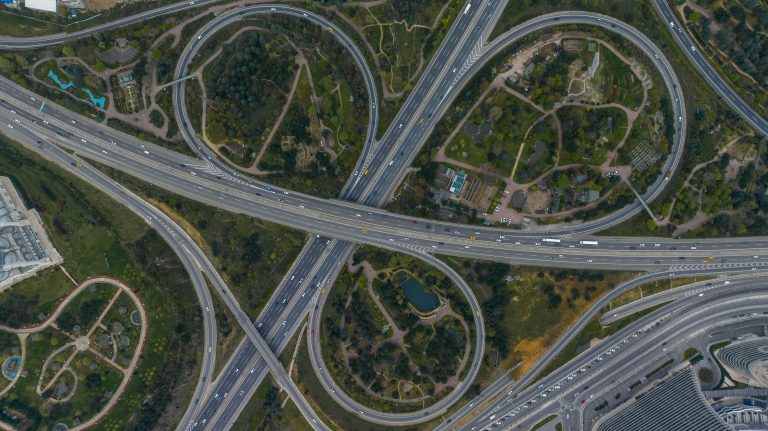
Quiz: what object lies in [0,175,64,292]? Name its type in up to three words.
building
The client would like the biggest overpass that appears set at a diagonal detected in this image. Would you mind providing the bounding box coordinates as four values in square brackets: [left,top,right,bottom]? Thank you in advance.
[230,301,296,391]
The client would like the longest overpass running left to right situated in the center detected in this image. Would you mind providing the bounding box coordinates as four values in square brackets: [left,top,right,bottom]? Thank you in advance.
[302,193,394,245]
